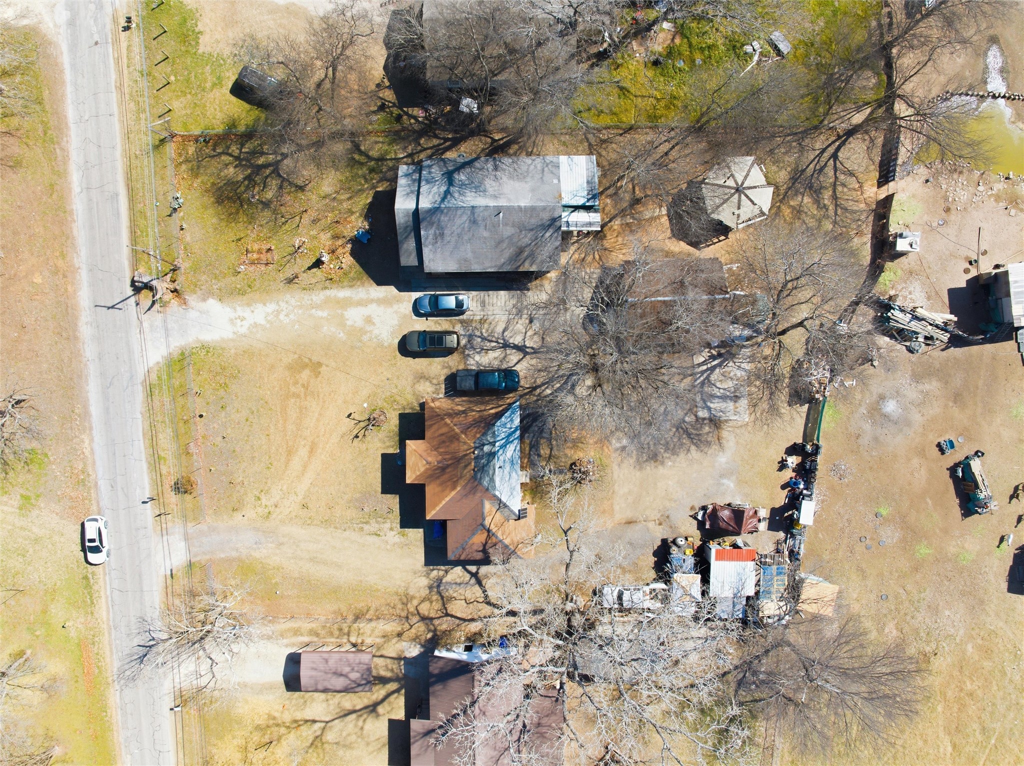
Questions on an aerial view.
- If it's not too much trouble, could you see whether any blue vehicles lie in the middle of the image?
Yes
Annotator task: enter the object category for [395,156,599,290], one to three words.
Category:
house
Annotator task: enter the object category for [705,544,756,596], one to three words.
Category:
shed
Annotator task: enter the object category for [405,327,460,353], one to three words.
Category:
car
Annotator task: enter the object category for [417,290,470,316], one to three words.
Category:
car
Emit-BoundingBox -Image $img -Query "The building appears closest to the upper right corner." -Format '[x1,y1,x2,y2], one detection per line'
[950,262,1024,329]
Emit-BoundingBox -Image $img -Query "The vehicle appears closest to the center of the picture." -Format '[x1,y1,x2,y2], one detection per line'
[456,366,520,394]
